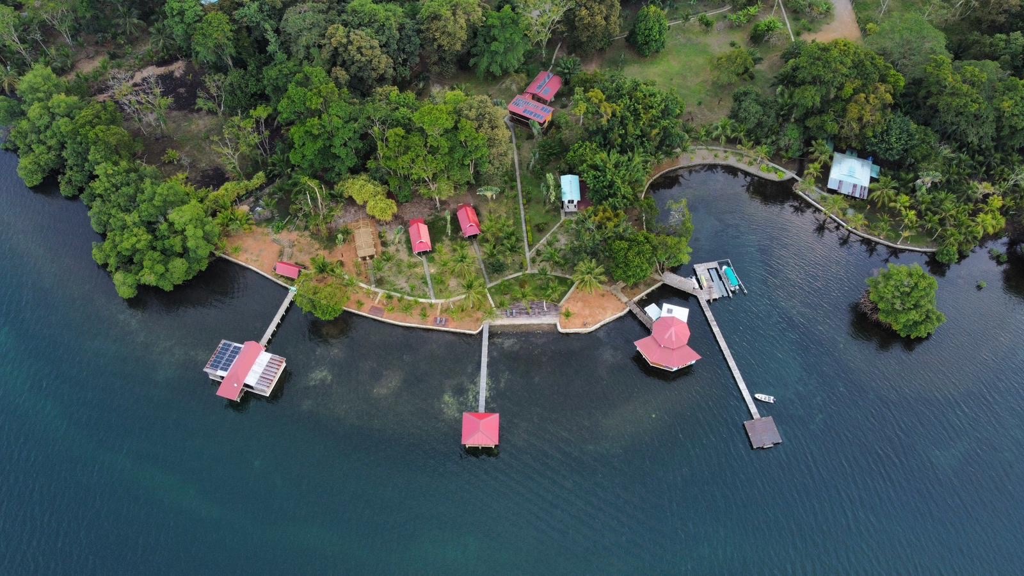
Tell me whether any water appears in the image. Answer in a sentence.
Yes, there is water in the image.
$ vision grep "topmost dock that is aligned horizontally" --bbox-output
[662,259,749,302]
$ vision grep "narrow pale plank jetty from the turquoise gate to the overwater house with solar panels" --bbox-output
[260,294,294,347]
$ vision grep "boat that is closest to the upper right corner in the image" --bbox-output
[723,264,741,292]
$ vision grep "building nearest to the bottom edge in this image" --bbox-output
[461,412,499,450]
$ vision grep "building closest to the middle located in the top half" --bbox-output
[456,205,481,245]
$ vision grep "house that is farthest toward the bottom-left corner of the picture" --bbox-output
[203,340,289,405]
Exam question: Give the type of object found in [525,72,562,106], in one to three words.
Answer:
house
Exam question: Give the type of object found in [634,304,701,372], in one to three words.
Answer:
building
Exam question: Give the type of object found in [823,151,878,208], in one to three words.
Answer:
house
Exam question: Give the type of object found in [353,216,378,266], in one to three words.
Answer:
shed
